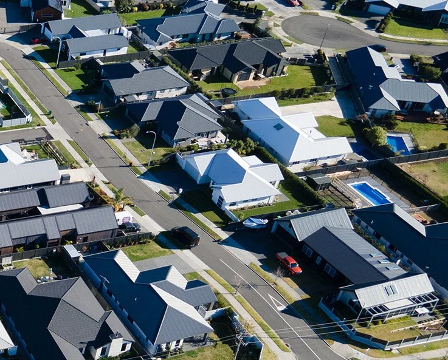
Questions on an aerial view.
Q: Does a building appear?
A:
Yes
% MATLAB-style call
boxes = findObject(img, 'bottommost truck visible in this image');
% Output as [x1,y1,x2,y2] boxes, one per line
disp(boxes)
[272,252,306,278]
